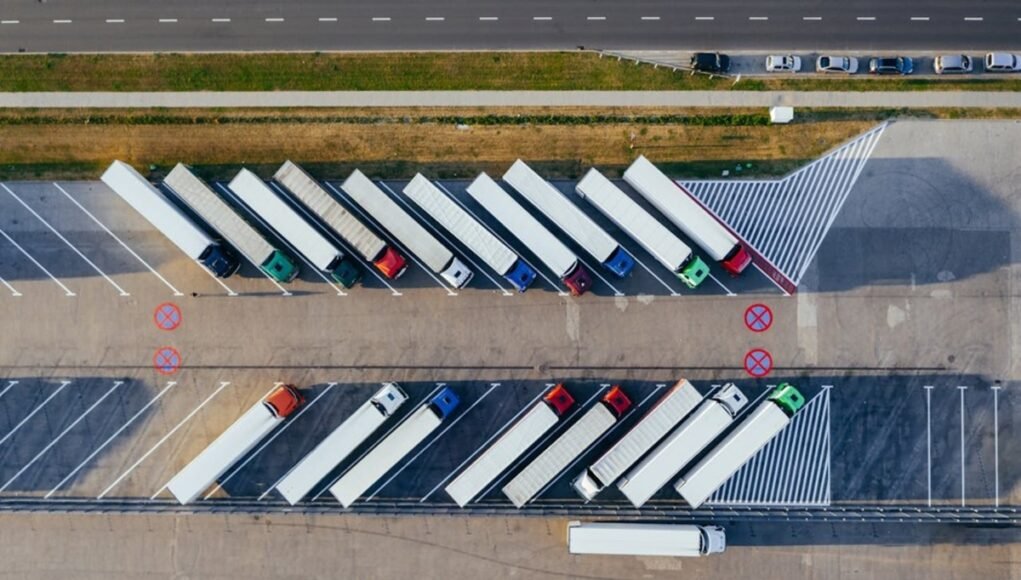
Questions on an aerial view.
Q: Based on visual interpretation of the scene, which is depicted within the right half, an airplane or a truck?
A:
truck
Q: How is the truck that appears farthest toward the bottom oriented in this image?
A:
from side to side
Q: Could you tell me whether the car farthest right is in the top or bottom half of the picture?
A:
top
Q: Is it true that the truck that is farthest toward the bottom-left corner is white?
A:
Yes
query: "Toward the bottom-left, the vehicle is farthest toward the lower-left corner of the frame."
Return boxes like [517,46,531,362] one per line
[167,381,308,505]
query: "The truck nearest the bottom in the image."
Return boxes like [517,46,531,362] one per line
[567,519,727,556]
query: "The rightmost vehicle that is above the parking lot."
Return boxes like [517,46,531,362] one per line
[984,51,1021,72]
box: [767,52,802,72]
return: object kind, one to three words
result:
car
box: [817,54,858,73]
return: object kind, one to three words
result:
car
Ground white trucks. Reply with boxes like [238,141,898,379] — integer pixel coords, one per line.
[617,382,748,506]
[446,383,576,507]
[567,519,727,556]
[622,155,755,276]
[100,159,244,281]
[504,159,636,279]
[673,381,807,508]
[467,171,595,297]
[228,168,364,292]
[571,378,701,502]
[341,169,475,291]
[575,167,711,289]
[167,381,308,505]
[329,383,463,507]
[277,380,412,505]
[404,173,537,293]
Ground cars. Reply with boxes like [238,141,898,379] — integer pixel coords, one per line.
[984,51,1021,72]
[817,54,858,73]
[933,53,973,74]
[690,50,728,72]
[868,54,913,75]
[767,52,802,72]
